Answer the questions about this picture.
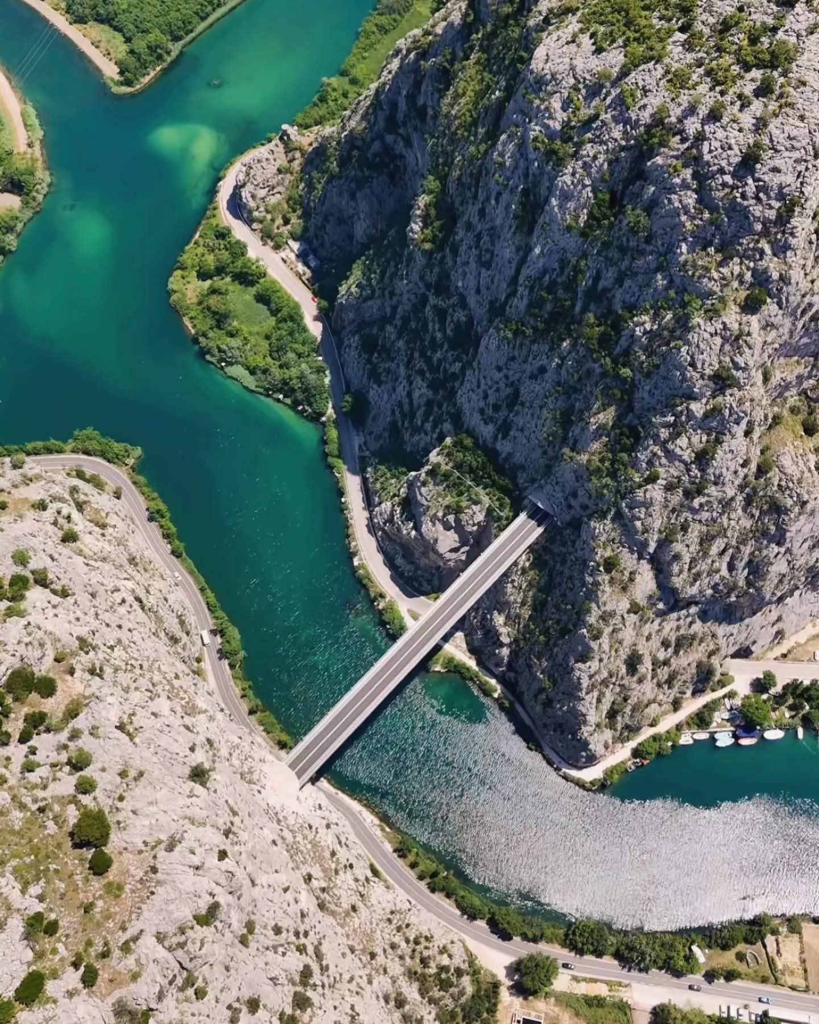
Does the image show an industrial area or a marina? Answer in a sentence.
The picture captures a marina.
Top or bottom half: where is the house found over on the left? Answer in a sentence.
The house found over on the left sits in the top half of the picture.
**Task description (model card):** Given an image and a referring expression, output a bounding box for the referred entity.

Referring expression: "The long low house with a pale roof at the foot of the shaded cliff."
[291,238,322,268]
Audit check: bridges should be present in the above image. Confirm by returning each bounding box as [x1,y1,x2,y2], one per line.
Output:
[278,507,545,786]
